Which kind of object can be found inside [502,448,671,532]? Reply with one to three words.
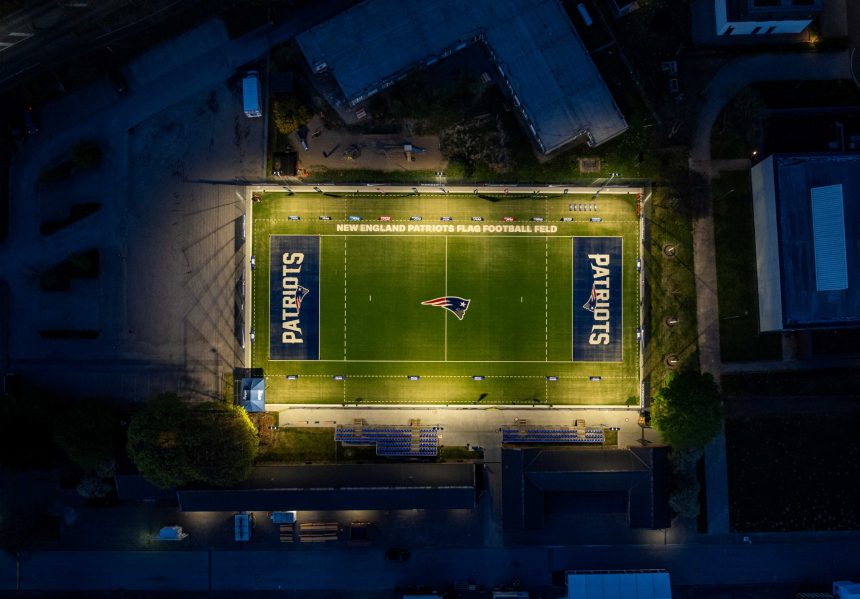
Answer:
building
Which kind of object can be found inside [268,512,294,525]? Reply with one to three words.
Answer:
vehicle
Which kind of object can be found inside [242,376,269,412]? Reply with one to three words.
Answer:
tent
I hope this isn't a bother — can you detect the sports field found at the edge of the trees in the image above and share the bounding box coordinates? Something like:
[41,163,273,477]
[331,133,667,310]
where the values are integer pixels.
[251,192,640,403]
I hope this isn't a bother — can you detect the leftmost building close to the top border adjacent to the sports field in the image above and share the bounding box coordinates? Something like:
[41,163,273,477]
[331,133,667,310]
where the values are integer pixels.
[295,0,629,160]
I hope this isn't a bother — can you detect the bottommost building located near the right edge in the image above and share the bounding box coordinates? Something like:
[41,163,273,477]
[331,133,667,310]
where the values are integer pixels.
[751,150,860,332]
